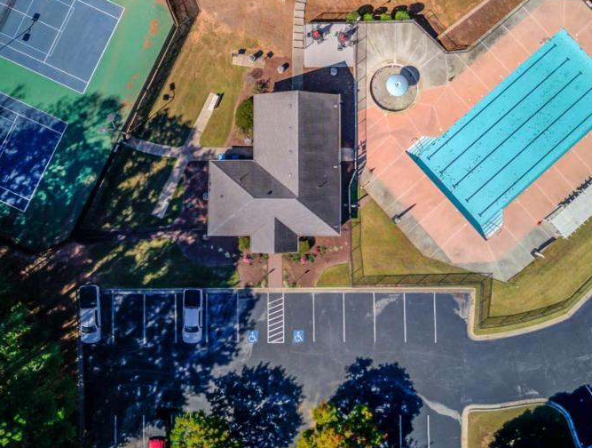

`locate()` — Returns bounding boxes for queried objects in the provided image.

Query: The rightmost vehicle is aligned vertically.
[181,288,203,346]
